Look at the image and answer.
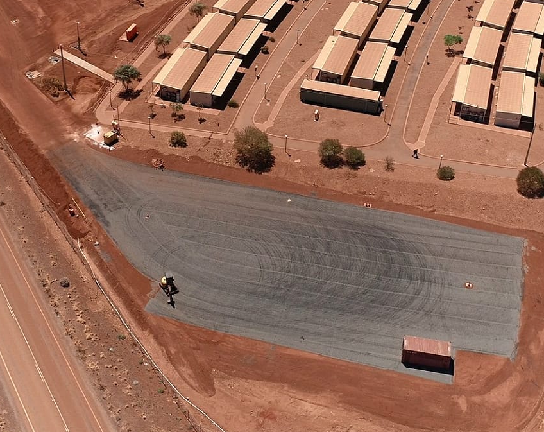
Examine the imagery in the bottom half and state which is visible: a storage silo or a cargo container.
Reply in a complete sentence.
You can see a cargo container in the bottom half.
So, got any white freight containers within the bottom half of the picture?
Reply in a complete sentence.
No, no white freight container appears within the bottom half of the picture.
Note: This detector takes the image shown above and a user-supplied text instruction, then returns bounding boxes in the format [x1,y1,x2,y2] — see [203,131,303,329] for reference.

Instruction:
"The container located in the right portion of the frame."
[402,336,451,369]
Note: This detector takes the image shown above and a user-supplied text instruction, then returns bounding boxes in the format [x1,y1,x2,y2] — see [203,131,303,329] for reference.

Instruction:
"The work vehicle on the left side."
[161,276,176,305]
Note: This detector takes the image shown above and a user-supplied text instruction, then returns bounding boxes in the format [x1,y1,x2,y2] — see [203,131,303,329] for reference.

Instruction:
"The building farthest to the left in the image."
[153,50,210,103]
